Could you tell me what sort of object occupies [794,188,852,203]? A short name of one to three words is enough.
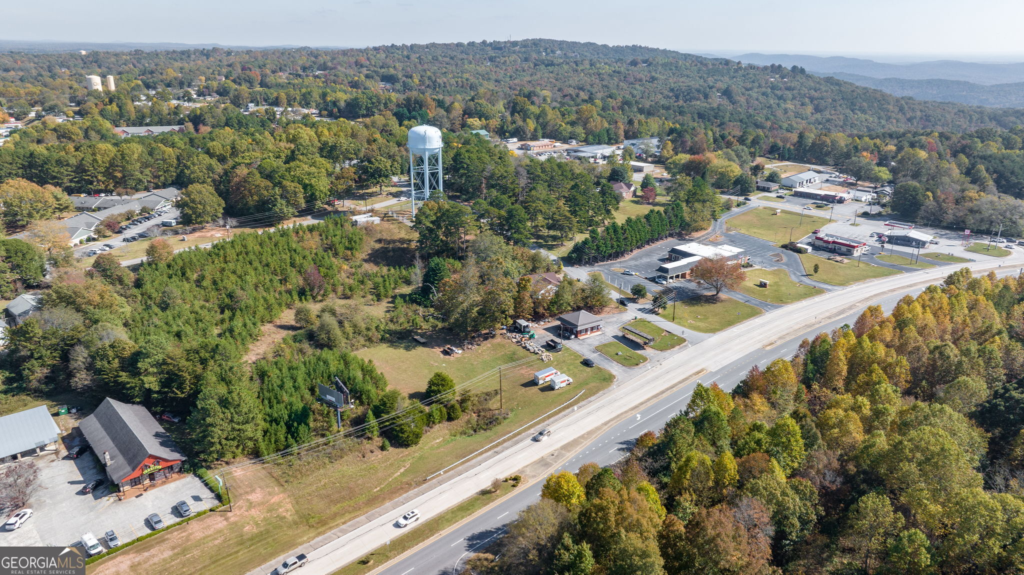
building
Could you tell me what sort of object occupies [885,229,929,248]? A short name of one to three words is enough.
building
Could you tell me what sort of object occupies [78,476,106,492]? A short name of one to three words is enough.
car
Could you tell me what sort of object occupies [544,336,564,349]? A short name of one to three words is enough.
vehicle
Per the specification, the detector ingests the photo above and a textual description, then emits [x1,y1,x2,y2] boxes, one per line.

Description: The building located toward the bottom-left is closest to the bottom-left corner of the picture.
[0,405,61,465]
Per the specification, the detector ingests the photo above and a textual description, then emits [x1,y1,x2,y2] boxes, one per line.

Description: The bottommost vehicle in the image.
[276,552,312,575]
